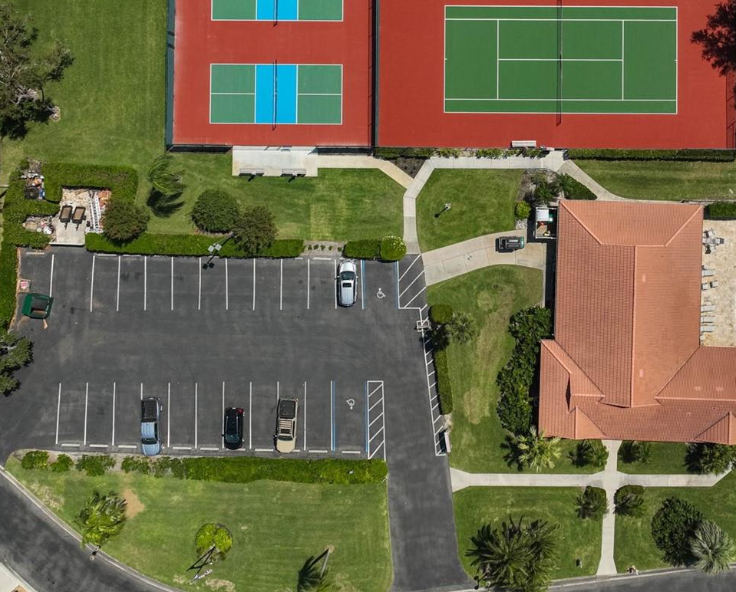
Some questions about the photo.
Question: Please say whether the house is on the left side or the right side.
right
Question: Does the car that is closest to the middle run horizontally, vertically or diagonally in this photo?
vertically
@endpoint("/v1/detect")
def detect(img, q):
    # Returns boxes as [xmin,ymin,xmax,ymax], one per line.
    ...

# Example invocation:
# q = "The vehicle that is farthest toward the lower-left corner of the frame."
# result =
[134,398,161,458]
